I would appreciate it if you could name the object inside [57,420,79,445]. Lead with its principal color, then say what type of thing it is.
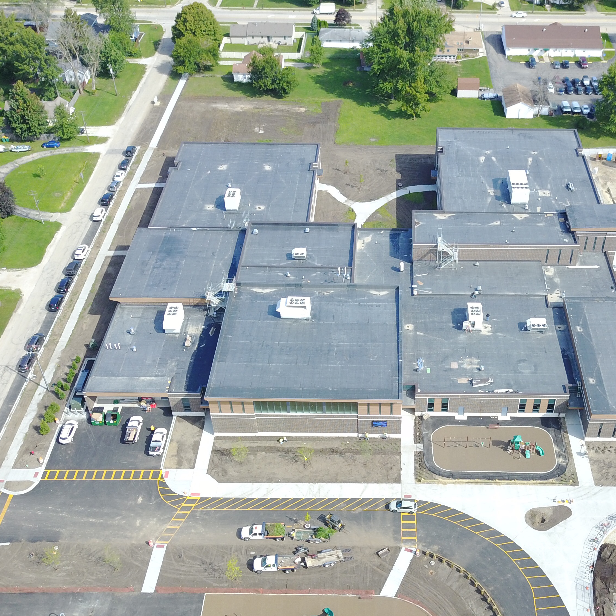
white car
